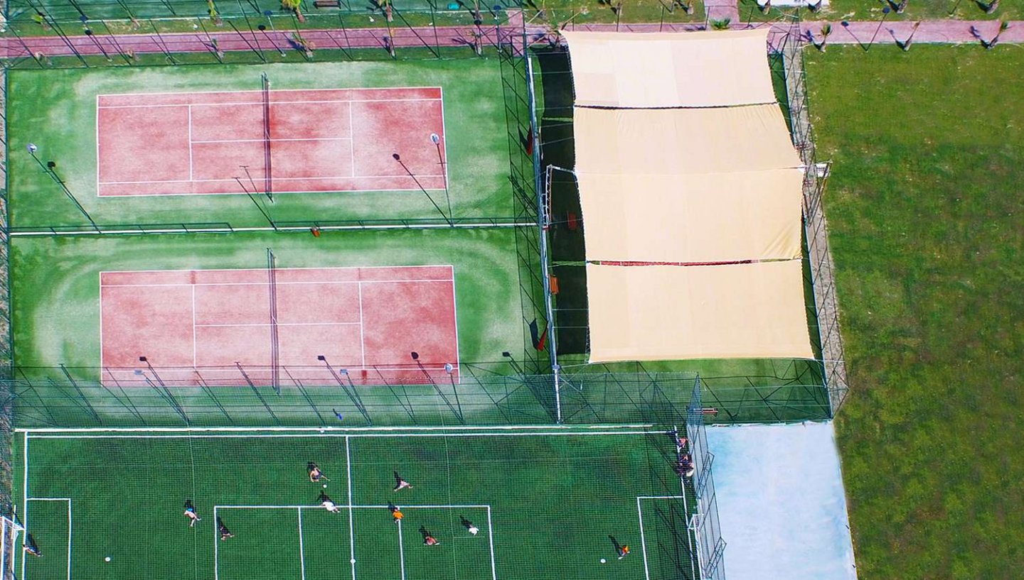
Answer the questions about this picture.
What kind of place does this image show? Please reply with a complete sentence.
What you see here is a sports ground.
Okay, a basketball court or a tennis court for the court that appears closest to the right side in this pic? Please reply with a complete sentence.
It turns out the court that appears closest to the right side is a tennis court.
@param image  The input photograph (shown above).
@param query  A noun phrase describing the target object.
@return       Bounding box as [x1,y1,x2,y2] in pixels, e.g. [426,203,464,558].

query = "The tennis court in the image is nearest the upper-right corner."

[534,50,830,424]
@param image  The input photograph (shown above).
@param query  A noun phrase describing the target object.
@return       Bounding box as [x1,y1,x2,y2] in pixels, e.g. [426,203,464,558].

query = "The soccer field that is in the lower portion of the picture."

[10,425,702,580]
